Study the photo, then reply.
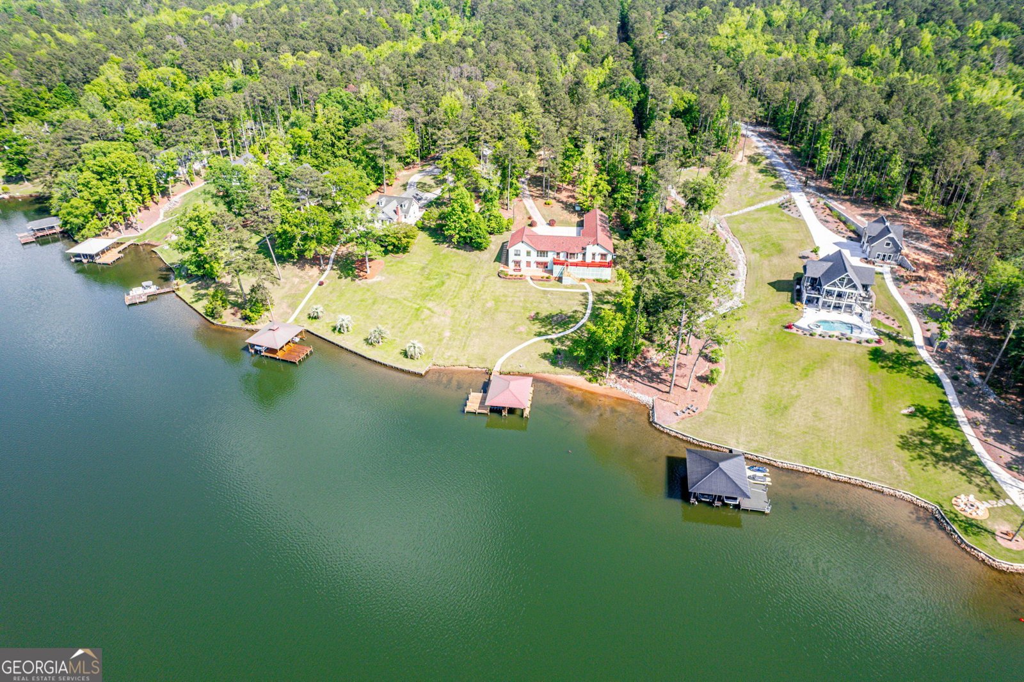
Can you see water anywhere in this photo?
Yes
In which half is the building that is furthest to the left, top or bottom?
top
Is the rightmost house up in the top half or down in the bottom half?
top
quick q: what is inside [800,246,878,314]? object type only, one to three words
house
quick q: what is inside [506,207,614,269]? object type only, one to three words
house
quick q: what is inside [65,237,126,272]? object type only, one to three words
building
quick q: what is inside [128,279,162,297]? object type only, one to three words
boat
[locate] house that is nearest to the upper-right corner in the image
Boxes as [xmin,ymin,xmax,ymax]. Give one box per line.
[860,215,910,261]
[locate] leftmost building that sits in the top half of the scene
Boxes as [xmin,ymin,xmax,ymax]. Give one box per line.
[13,217,72,248]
